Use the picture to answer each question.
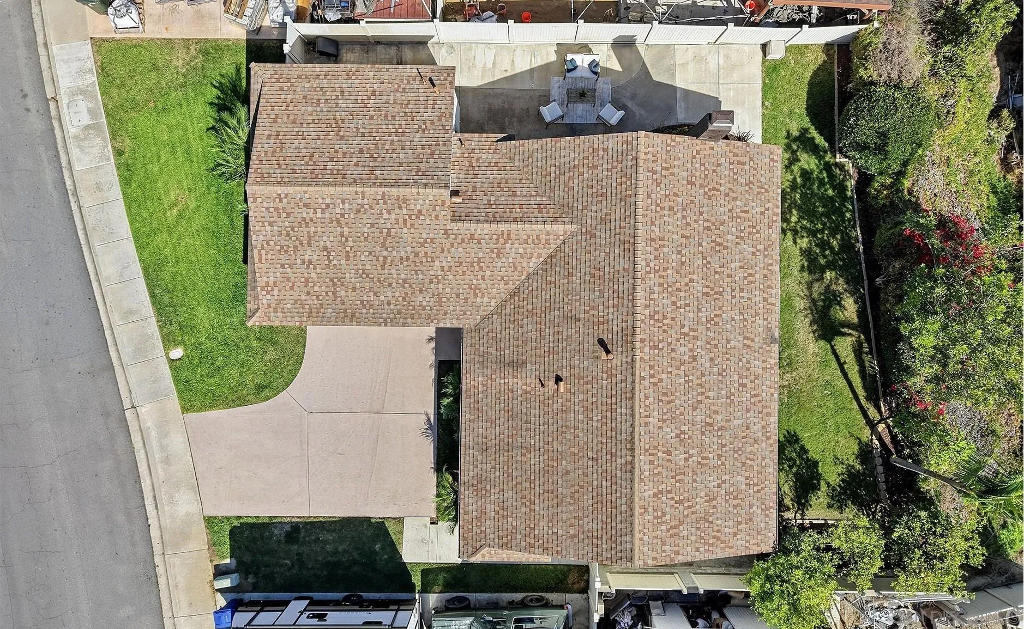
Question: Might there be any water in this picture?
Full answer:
No, there's no water in this view.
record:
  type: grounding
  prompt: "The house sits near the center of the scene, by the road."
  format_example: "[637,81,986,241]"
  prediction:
[246,61,781,567]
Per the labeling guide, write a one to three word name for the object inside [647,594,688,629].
shed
